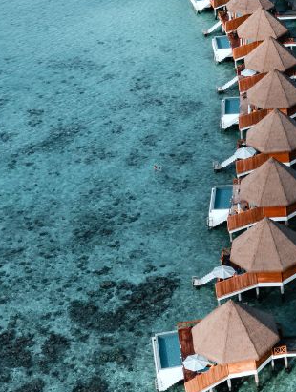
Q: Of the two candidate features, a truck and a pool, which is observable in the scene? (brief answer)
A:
pool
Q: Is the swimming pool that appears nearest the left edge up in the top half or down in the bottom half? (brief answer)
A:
bottom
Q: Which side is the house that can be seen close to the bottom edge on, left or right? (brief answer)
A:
right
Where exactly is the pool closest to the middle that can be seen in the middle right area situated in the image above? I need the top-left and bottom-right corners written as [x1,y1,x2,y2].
[208,184,231,219]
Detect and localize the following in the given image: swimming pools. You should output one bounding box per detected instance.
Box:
[152,330,183,381]
[190,0,208,9]
[211,33,231,55]
[220,95,240,123]
[208,184,231,219]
